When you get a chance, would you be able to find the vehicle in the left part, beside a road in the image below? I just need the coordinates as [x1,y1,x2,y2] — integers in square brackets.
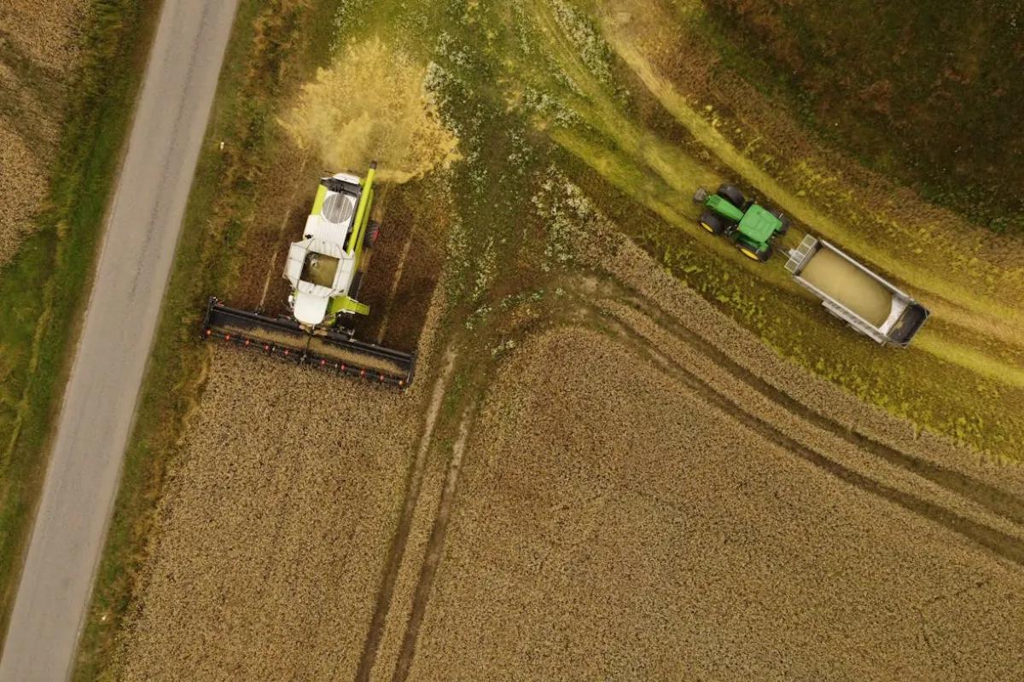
[200,160,420,398]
